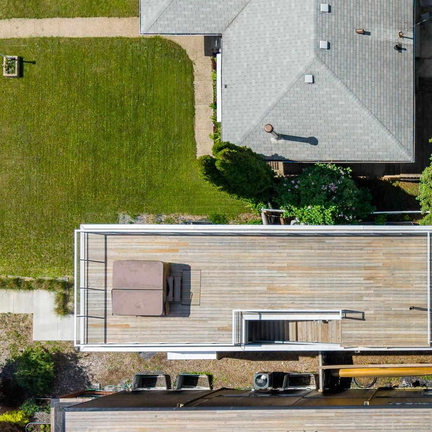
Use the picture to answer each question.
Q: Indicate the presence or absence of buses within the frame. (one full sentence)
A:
No, the frame has no bus in it.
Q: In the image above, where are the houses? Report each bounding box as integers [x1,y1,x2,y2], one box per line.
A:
[63,390,432,432]
[137,0,418,165]
[80,224,432,359]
